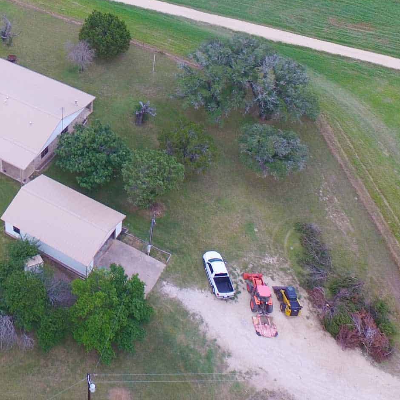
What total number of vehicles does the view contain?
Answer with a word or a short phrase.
3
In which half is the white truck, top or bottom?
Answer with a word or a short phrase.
bottom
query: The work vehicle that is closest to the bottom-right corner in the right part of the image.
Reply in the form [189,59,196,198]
[272,285,303,315]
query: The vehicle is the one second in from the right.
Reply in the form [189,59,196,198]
[243,281,275,320]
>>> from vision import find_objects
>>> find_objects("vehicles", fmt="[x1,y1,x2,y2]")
[272,285,303,315]
[203,254,238,303]
[243,281,275,320]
